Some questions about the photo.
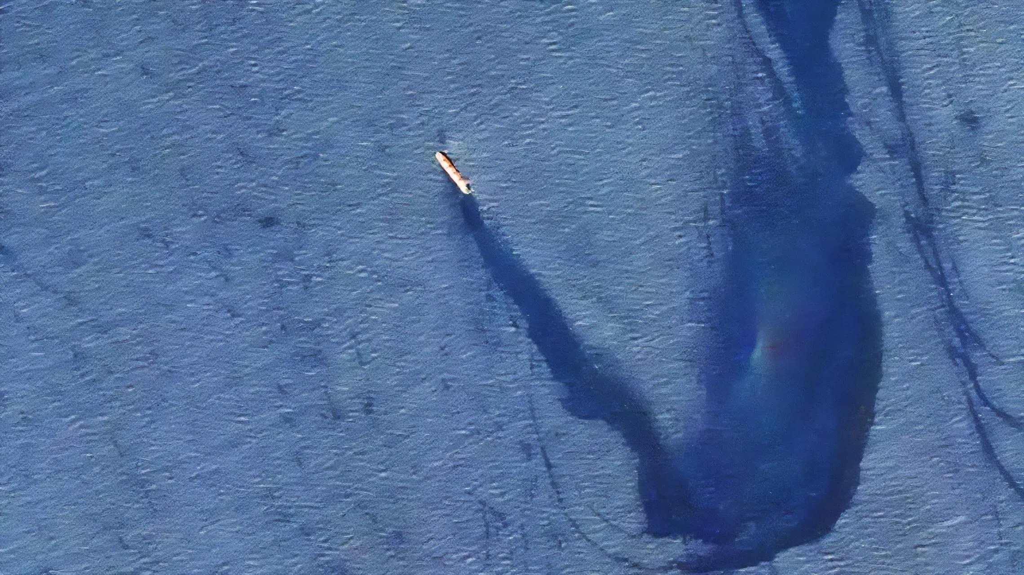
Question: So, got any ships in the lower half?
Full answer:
No, there's no ship to be seen in the lower half.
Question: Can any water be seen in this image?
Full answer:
Yes, there is water in the image.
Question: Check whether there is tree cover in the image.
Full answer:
No, no tree cover is visible.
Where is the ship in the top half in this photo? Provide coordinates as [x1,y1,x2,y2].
[437,152,471,195]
